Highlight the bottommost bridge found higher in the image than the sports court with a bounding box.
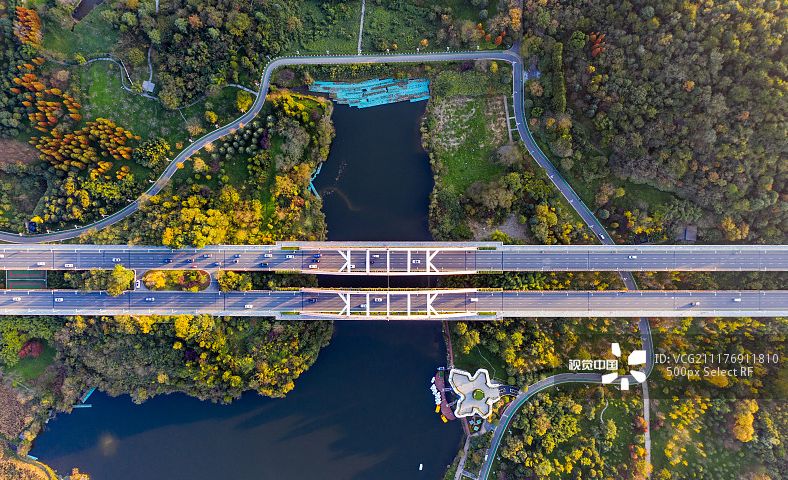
[0,242,788,274]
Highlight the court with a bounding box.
[4,271,48,290]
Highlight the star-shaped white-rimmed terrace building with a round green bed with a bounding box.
[449,368,520,418]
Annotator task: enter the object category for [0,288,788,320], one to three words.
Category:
bridge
